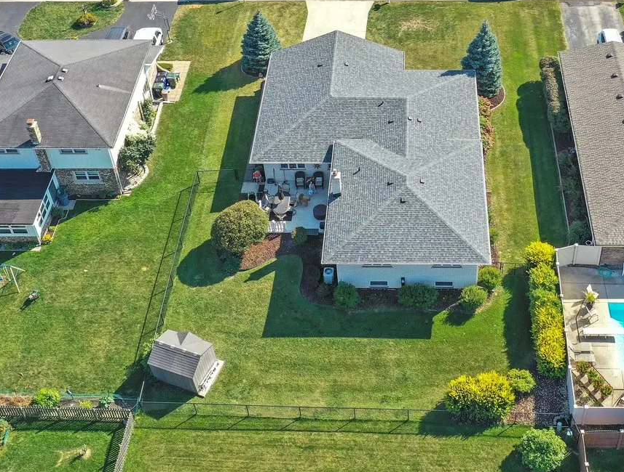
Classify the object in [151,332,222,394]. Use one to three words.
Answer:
shed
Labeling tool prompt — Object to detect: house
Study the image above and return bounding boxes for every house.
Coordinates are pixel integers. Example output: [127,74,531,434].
[557,40,624,265]
[0,39,155,248]
[246,33,493,295]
